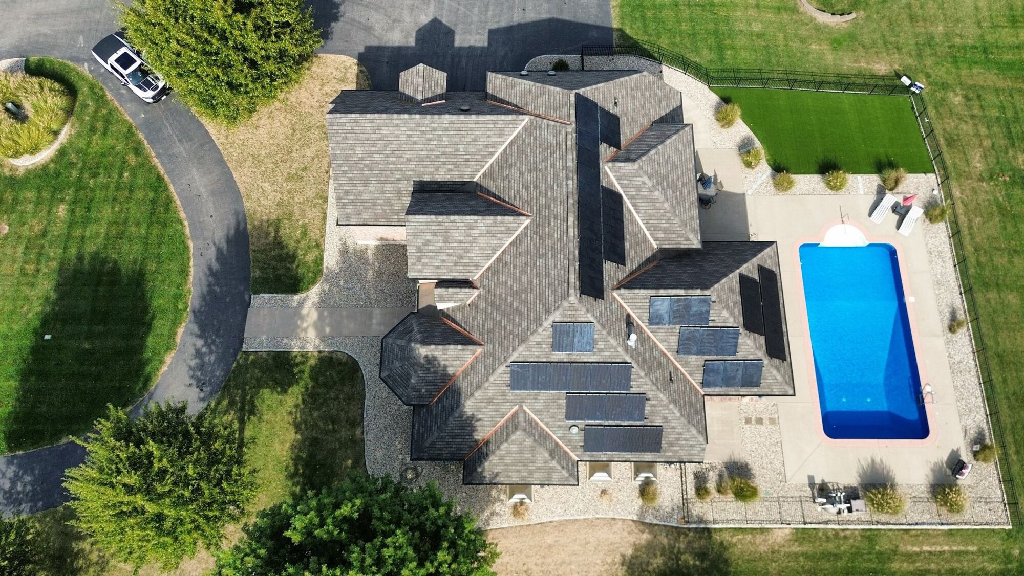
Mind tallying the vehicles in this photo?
1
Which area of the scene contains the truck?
top left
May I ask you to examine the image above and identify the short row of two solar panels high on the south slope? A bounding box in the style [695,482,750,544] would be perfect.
[547,323,599,354]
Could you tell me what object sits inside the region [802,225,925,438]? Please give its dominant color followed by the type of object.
blue swimming pool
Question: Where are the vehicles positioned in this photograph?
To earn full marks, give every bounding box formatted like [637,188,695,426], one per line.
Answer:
[93,36,174,108]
